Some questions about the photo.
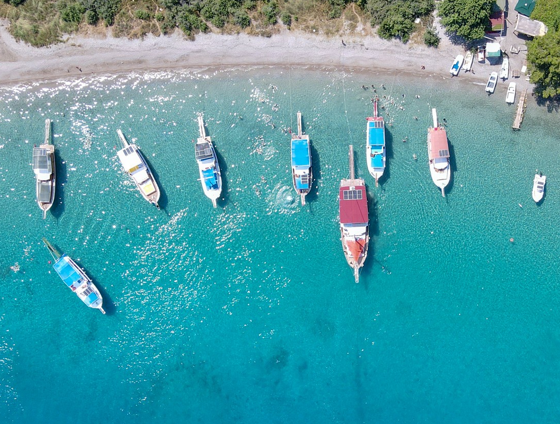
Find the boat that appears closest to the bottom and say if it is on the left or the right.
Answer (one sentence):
The boat that appears closest to the bottom is on the left side of the image.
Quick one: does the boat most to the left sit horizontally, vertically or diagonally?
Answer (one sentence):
The boat most to the left runs vertically in the image.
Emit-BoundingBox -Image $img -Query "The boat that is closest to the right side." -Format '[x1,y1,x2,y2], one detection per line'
[532,171,546,202]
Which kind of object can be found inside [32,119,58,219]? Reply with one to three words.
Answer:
boat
